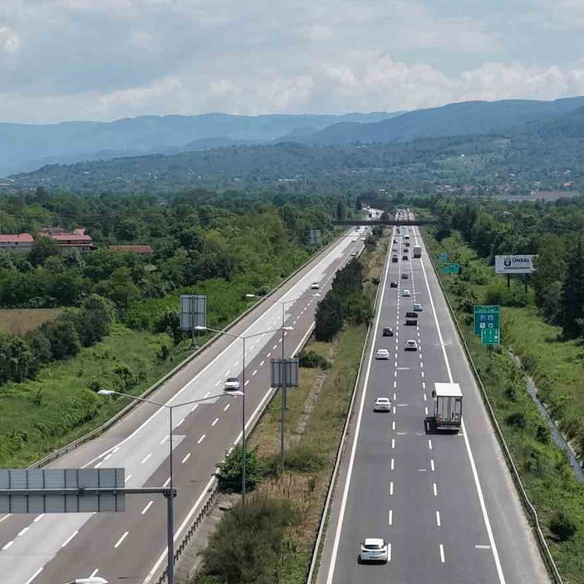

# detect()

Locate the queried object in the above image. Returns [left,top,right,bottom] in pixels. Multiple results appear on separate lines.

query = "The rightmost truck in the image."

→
[431,382,461,428]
